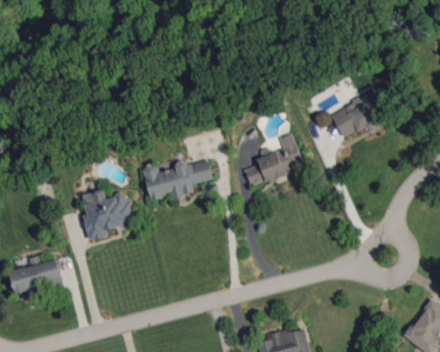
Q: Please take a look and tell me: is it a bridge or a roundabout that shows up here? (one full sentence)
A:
The image shows a roundabout.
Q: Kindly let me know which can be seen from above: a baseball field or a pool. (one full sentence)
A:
Of the two, only a pool appears.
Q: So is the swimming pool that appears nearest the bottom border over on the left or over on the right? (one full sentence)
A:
You can find the swimming pool that appears nearest the bottom border on the left side of the picture.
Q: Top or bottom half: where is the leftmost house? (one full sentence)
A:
The bottom half of the photo is where the leftmost house is.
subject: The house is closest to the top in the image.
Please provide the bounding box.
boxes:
[332,95,373,136]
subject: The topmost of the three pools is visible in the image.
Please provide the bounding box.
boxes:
[316,94,340,112]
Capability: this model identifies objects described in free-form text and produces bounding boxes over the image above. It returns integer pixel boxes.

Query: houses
[332,95,373,136]
[404,302,440,352]
[244,132,300,186]
[8,256,62,296]
[141,156,214,203]
[81,188,134,240]
[259,330,313,352]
